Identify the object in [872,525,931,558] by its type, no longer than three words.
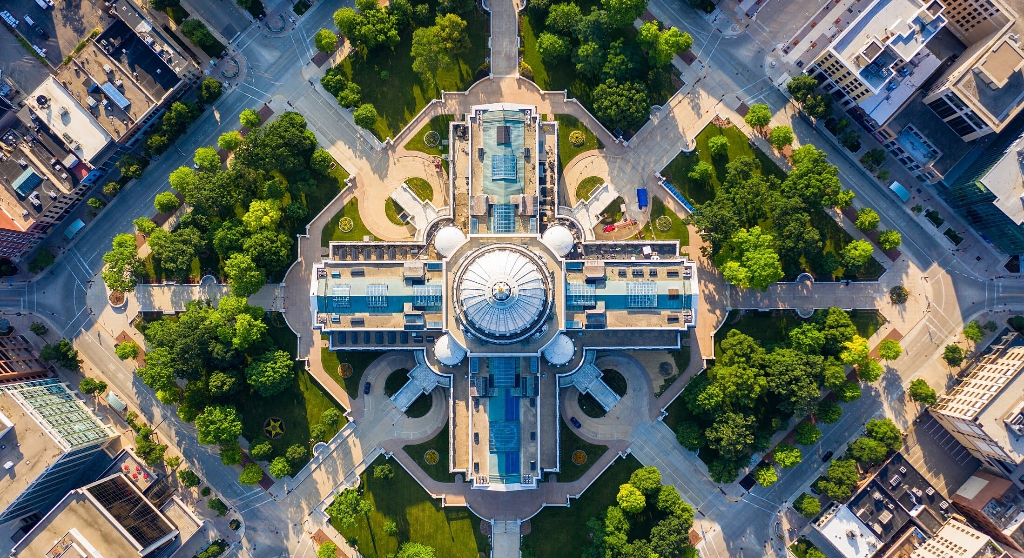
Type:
building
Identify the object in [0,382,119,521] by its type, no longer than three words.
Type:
building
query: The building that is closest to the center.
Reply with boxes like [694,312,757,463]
[310,102,699,491]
